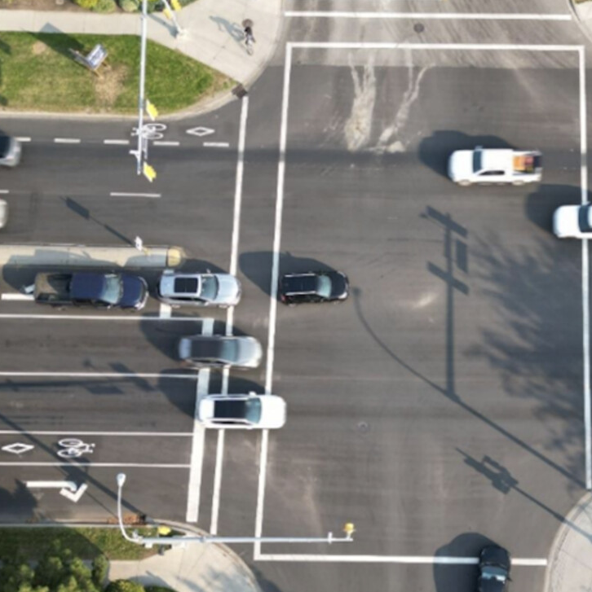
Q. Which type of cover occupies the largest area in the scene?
paved ground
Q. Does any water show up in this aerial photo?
No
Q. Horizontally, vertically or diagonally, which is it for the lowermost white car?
horizontally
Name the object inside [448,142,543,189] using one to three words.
truck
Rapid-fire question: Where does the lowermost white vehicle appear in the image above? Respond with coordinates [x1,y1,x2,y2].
[196,388,288,432]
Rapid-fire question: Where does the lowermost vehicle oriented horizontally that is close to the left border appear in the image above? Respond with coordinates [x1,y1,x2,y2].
[28,267,152,311]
